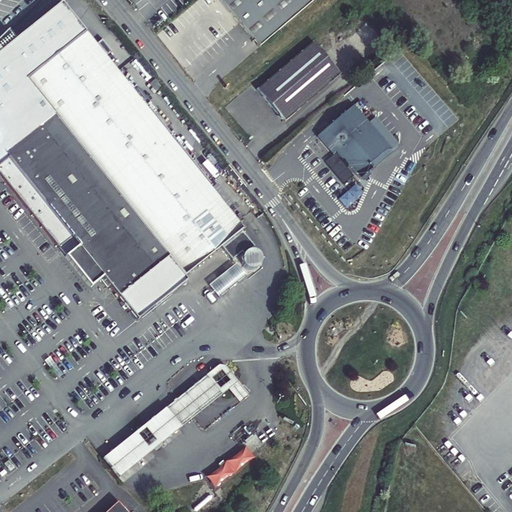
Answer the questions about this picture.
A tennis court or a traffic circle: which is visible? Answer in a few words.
traffic circle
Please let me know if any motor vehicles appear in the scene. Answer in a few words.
Yes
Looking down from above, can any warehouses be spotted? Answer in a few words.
Yes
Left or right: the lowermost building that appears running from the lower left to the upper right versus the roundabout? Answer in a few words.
to its left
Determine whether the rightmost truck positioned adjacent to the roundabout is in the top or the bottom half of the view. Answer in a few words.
bottom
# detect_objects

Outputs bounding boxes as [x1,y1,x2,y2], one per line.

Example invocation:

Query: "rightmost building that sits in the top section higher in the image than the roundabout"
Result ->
[318,104,398,208]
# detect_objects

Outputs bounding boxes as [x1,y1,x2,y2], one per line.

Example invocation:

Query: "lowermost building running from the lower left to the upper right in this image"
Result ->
[104,362,248,476]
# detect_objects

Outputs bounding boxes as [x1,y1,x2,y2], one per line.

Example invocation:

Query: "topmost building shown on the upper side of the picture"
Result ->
[222,0,316,48]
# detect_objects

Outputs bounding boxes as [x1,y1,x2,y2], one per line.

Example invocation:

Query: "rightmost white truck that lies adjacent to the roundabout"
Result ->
[452,369,486,402]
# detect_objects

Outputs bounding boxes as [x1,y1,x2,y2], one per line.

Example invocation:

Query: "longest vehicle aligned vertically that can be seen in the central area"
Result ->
[300,262,316,303]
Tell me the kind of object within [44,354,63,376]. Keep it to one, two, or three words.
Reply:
vehicle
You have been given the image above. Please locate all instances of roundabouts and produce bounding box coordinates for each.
[296,282,434,420]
